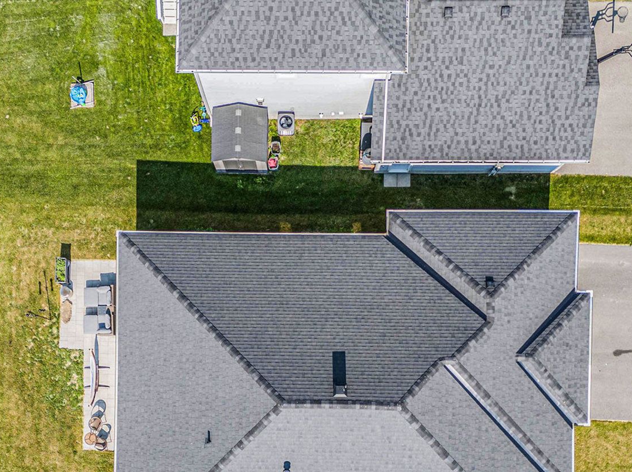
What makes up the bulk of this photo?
buildings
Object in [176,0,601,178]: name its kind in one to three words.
house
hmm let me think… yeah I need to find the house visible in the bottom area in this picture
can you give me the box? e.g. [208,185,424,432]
[113,209,592,472]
